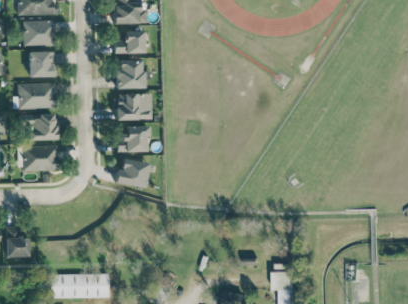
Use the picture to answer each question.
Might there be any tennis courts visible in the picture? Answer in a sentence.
No, this view has no tennis court in it.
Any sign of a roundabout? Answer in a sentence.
No, there's no roundabout here.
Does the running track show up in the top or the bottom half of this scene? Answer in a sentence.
The top half of the photo is where the running track is.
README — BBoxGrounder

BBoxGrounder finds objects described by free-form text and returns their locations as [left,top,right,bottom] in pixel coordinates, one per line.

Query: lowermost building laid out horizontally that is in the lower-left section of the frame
[54,274,110,299]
